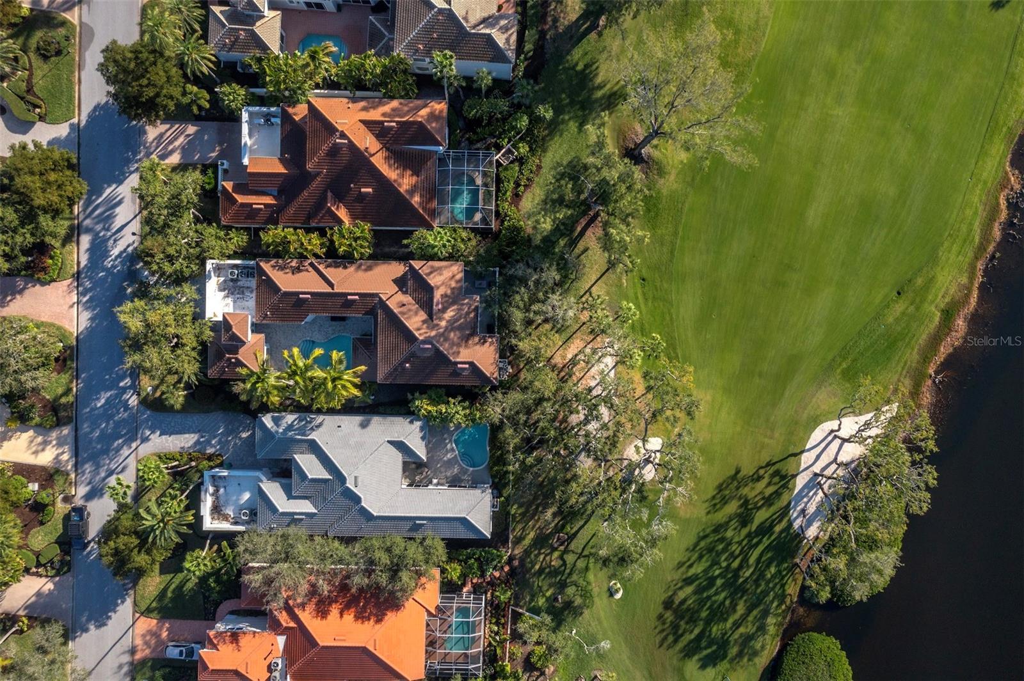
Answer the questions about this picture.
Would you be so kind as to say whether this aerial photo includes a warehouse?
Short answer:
No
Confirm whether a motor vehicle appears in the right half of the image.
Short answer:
No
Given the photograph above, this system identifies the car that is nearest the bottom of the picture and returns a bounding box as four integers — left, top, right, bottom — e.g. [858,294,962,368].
[168,640,206,660]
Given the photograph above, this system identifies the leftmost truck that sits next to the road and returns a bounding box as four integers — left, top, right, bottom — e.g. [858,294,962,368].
[67,502,94,549]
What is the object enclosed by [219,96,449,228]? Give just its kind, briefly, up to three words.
house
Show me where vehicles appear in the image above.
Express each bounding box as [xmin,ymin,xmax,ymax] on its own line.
[168,640,206,660]
[67,502,94,549]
